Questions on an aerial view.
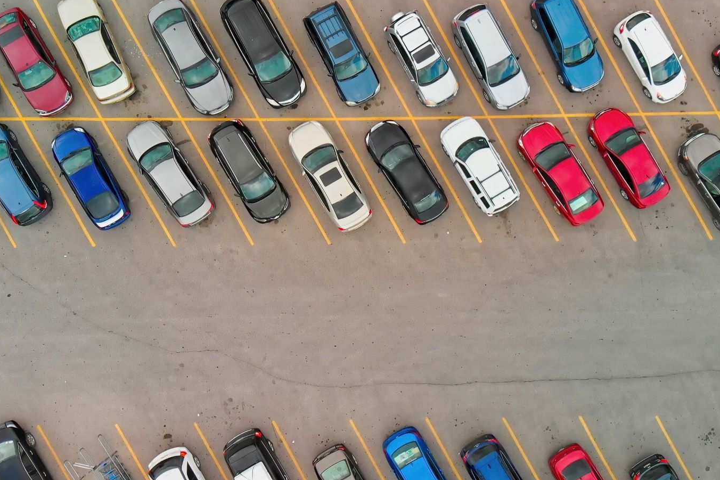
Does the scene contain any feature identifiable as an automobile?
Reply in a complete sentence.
Yes, the frame does contain an automobile.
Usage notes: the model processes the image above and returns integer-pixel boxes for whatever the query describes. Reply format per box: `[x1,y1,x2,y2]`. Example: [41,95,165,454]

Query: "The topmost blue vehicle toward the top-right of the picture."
[529,0,603,93]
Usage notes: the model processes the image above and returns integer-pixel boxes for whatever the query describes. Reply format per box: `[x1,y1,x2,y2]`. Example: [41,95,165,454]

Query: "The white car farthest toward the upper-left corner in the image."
[55,0,137,106]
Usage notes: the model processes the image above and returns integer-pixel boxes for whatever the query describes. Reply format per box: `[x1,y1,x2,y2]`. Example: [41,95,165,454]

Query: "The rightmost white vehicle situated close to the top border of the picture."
[613,11,688,104]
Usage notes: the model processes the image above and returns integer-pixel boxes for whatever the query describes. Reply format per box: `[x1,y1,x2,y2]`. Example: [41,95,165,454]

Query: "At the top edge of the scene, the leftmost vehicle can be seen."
[0,6,71,117]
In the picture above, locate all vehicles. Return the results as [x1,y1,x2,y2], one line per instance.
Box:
[0,6,71,117]
[678,134,720,227]
[366,122,451,225]
[0,126,54,227]
[205,118,290,224]
[384,9,460,108]
[589,108,674,209]
[149,446,203,480]
[383,425,446,480]
[55,0,137,106]
[520,123,607,228]
[313,444,366,480]
[125,121,214,228]
[529,0,603,93]
[0,421,54,480]
[459,432,520,480]
[224,427,287,480]
[302,0,380,107]
[439,116,524,219]
[547,443,601,480]
[627,452,679,480]
[218,0,306,110]
[451,4,530,109]
[52,129,133,230]
[289,124,374,232]
[146,0,234,116]
[613,11,688,104]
